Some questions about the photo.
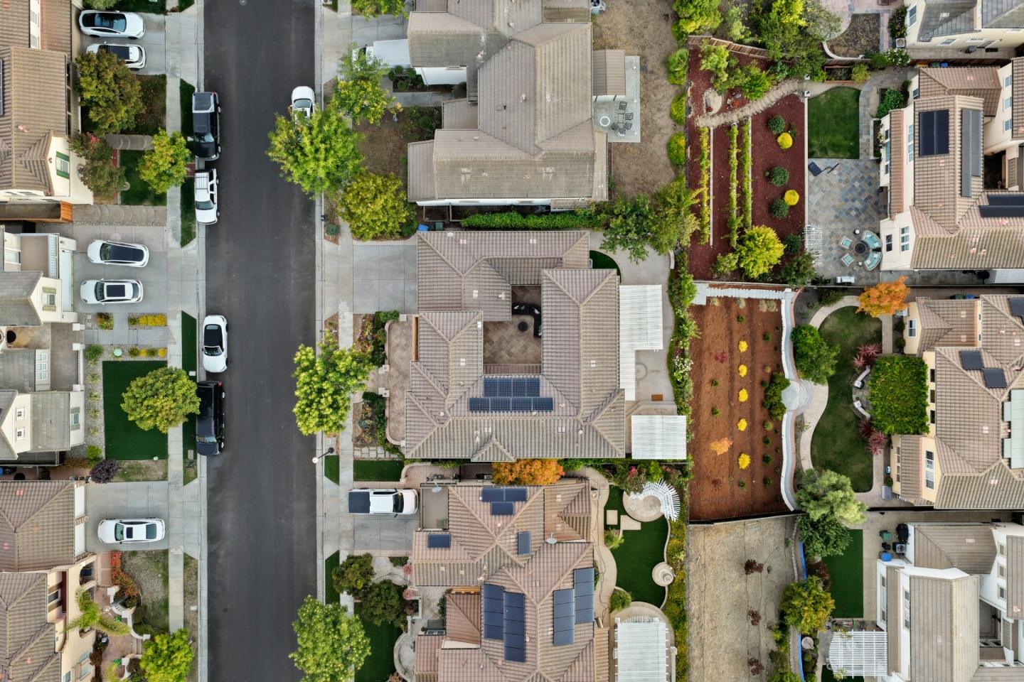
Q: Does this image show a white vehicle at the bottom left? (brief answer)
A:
Yes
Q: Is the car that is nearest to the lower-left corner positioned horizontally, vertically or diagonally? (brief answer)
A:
horizontally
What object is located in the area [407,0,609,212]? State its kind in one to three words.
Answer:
house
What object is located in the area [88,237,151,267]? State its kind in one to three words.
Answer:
car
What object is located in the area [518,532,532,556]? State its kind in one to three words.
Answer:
solar panel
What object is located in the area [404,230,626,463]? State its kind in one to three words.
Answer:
house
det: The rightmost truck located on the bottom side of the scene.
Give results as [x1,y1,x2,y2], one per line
[348,487,417,519]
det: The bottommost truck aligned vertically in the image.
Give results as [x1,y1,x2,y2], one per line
[192,382,227,455]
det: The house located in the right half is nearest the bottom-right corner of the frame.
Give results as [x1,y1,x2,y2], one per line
[875,520,1024,682]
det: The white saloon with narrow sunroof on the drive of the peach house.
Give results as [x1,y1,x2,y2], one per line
[101,517,165,546]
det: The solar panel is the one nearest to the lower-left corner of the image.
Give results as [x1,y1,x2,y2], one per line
[427,533,451,549]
